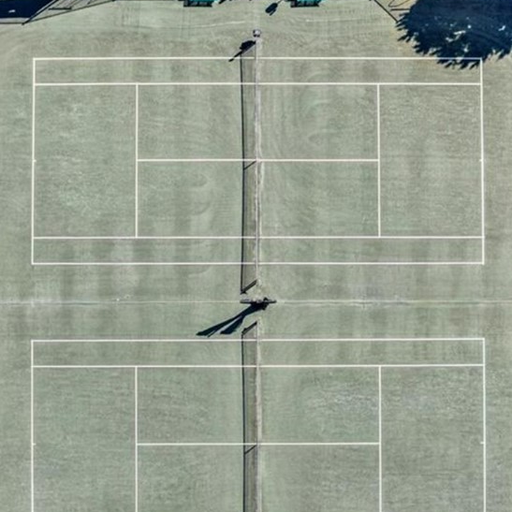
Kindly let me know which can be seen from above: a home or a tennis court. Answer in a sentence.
Of the two, only a tennis court appears.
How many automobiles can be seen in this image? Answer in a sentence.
The picture shows no automobiles.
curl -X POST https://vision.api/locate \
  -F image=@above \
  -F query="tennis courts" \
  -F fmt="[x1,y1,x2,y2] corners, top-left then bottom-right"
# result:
[31,338,485,512]
[31,57,484,265]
